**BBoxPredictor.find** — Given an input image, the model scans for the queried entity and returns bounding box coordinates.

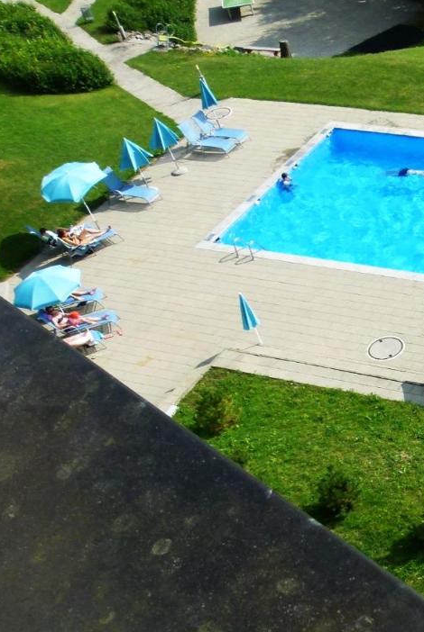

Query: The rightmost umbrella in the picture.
[240,293,262,343]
